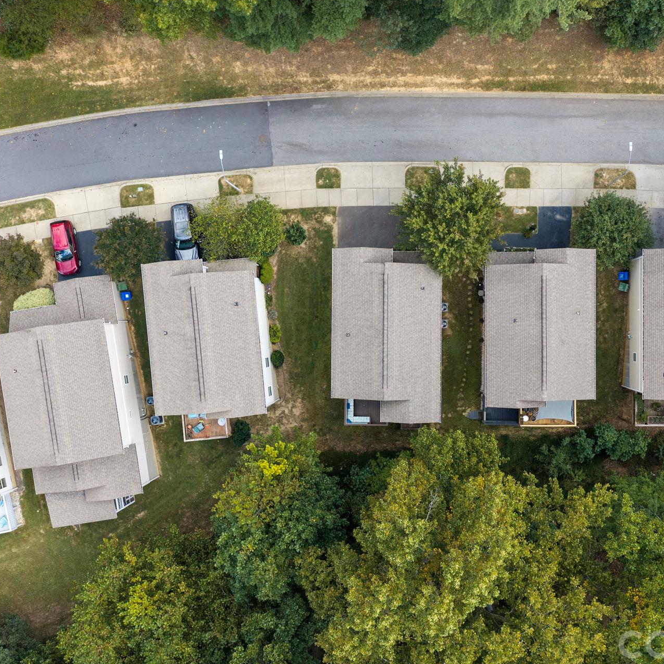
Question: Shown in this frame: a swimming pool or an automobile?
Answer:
automobile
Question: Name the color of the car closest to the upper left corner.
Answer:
red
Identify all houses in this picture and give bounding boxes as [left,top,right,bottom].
[0,274,162,528]
[479,248,598,409]
[624,248,664,399]
[330,247,443,424]
[139,256,277,419]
